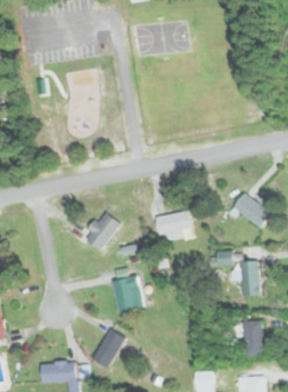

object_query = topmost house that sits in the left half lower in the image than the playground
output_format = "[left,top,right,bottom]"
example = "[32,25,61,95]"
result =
[87,212,122,250]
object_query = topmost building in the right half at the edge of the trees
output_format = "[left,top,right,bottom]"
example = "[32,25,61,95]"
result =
[226,192,267,225]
